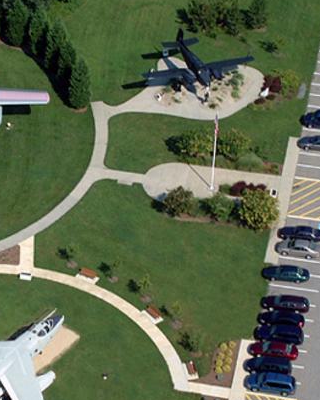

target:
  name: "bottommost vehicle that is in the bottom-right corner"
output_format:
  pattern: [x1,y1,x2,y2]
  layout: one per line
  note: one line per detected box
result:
[245,372,296,398]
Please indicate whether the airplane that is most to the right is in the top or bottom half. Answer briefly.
top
